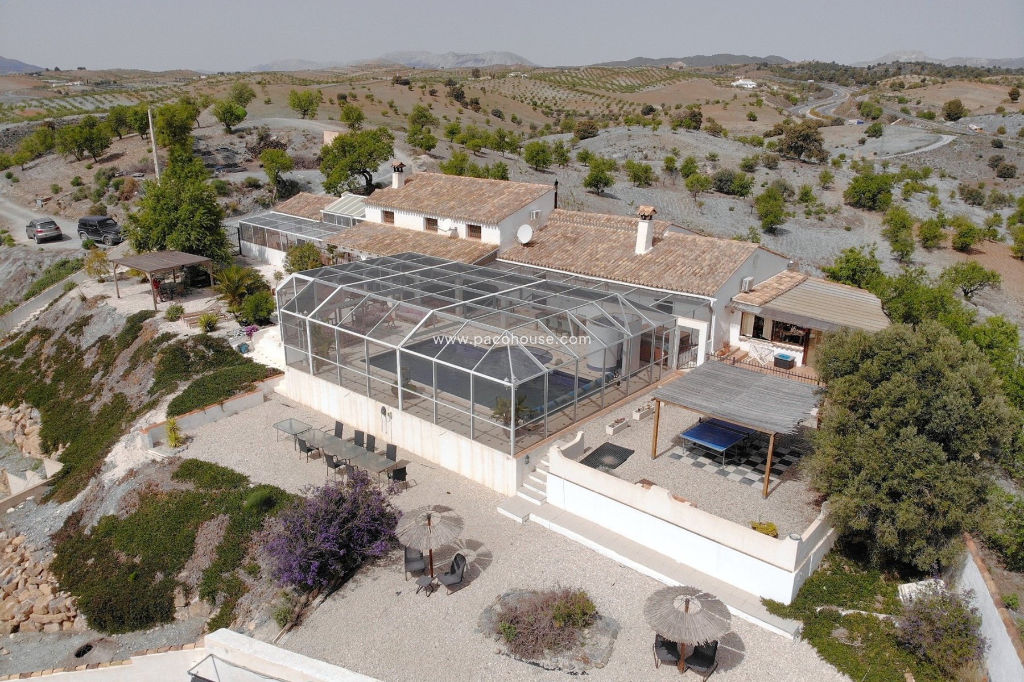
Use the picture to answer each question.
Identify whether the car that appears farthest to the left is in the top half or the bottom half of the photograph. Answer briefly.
top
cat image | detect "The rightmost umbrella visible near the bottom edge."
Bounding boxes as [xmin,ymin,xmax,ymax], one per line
[639,585,735,673]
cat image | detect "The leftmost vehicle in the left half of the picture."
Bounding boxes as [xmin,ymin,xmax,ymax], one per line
[8,211,68,241]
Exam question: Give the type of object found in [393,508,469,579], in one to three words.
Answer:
umbrella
